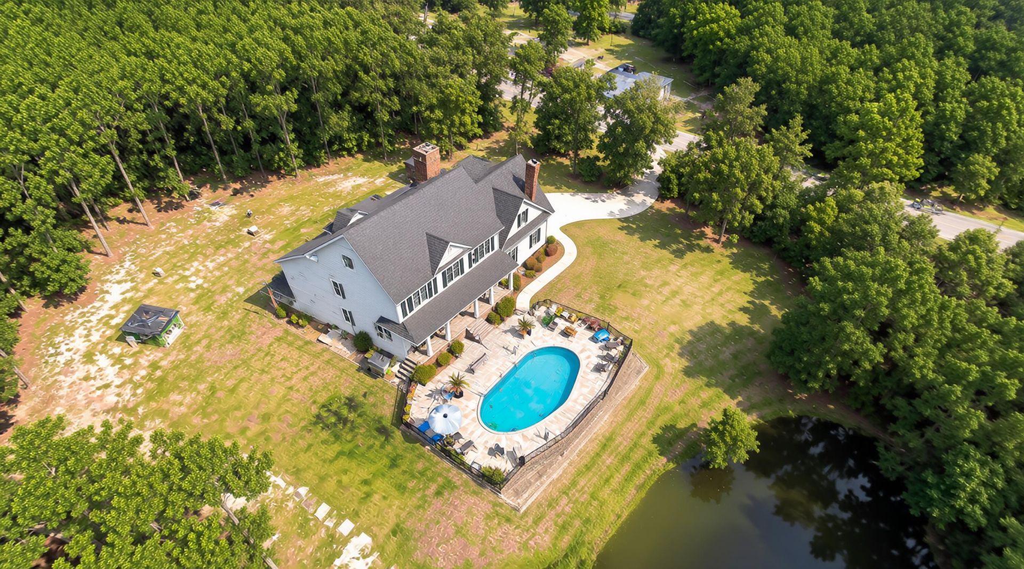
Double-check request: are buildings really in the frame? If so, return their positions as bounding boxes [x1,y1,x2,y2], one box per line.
[122,301,182,346]
[260,145,556,380]
[600,72,672,104]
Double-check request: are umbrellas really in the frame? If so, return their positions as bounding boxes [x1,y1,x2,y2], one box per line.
[428,410,462,443]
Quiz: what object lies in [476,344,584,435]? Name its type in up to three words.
swimming pool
